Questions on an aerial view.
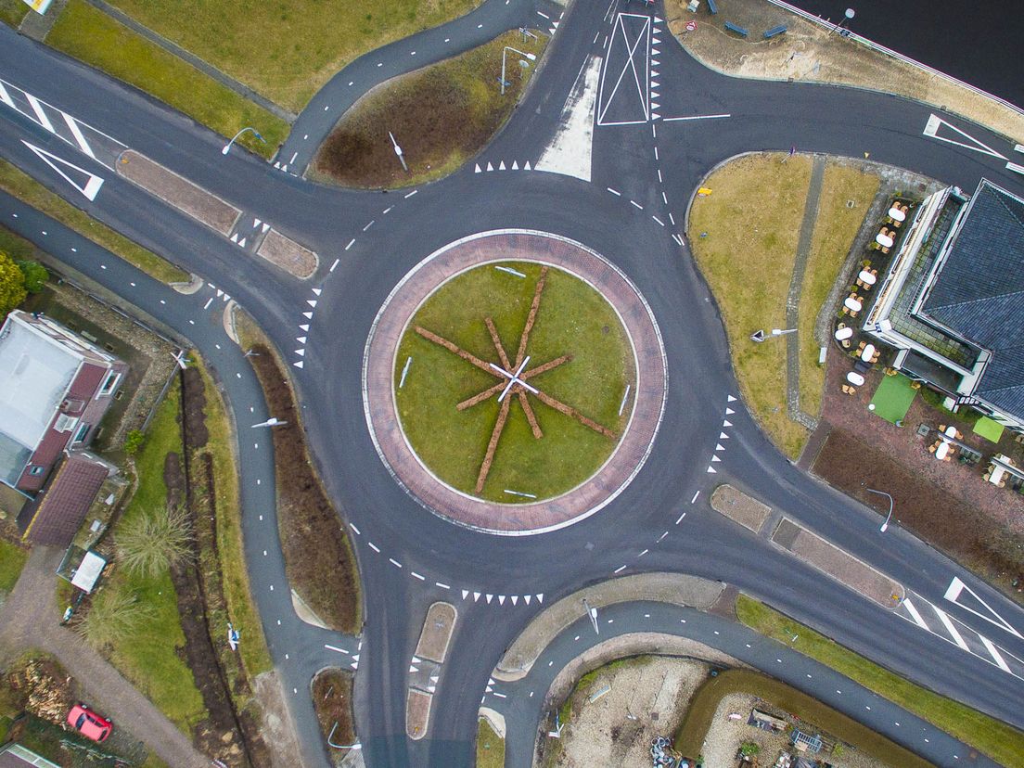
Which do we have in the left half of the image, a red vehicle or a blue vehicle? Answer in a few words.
red vehicle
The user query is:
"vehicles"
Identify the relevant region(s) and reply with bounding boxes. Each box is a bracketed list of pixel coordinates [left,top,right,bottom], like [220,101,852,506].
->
[68,702,116,741]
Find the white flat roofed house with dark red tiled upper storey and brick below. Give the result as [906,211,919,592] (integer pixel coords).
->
[0,314,128,488]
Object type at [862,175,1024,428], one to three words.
building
